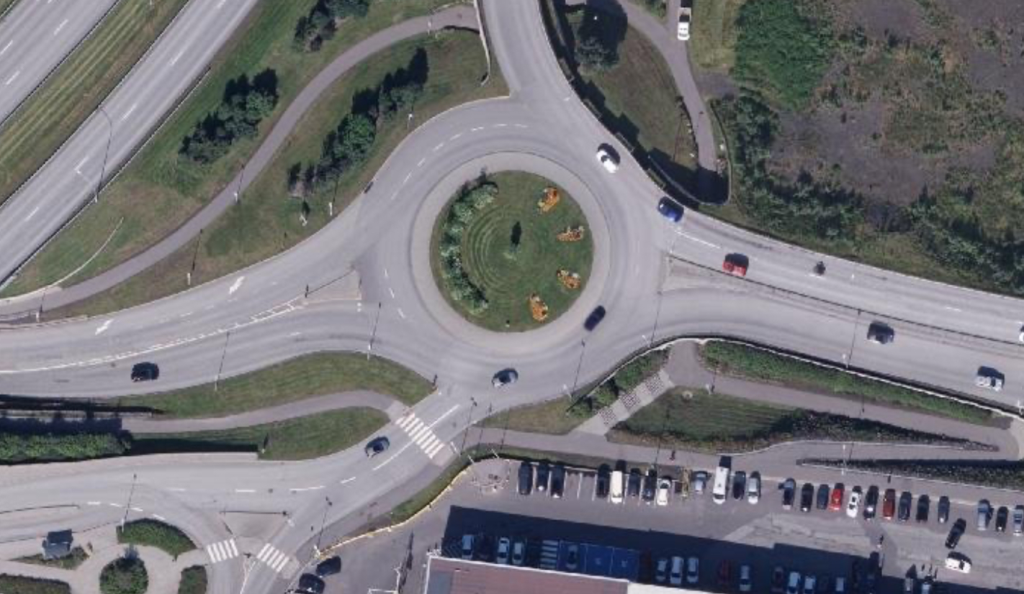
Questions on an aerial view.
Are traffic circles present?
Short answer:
Yes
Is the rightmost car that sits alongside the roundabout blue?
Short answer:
Yes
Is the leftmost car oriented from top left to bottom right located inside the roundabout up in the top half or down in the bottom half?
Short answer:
top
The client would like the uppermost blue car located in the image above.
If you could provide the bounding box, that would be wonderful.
[655,201,683,223]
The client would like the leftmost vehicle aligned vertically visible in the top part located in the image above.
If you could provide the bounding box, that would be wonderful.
[678,10,691,44]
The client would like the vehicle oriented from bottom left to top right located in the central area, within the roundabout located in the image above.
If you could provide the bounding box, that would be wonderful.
[583,304,606,332]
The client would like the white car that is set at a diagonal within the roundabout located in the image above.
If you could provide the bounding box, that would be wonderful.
[595,146,619,173]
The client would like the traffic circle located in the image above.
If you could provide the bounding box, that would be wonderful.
[355,95,667,408]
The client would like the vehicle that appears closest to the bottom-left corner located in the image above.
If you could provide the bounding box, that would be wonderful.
[131,365,159,381]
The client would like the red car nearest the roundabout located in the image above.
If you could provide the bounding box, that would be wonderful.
[721,259,747,275]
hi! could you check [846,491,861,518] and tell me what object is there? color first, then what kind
white car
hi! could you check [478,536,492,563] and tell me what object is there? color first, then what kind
black car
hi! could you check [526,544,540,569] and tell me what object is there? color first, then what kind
black car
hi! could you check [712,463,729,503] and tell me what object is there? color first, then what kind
white vehicle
